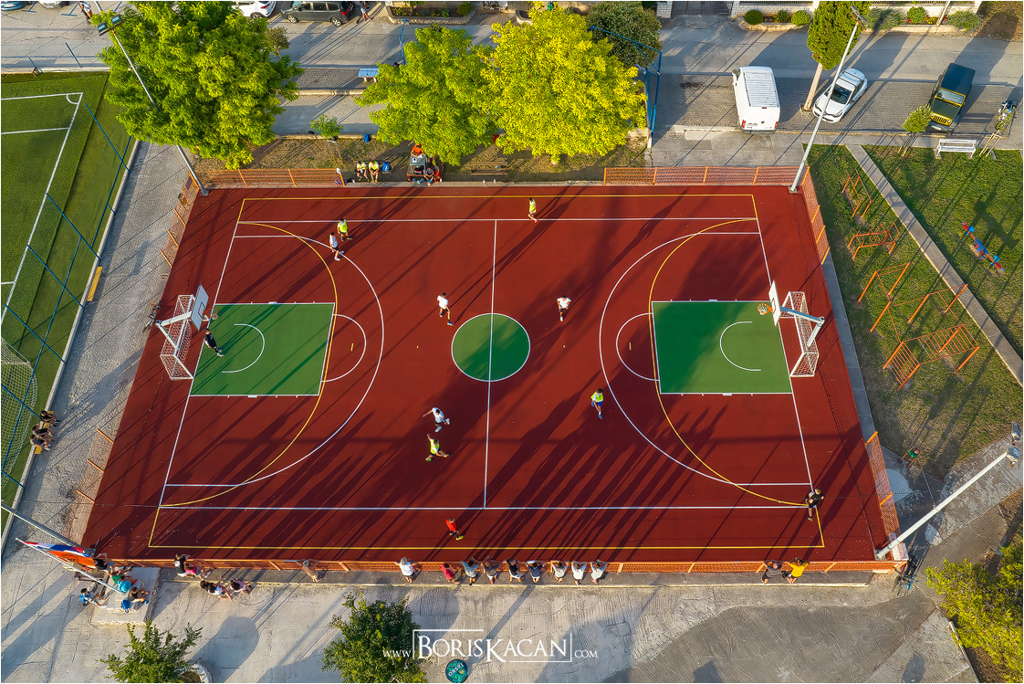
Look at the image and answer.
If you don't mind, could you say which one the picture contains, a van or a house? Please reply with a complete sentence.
Looking from above, you can make out a van.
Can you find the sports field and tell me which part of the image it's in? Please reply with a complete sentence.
The sports field is in the left part of the image.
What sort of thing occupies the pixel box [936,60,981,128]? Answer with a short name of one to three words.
car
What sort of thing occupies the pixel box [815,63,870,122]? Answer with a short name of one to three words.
car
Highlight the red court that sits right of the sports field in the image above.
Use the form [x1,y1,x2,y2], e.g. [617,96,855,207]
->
[81,182,895,570]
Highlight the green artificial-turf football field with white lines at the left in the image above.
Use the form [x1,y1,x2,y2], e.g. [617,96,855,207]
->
[0,70,141,570]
